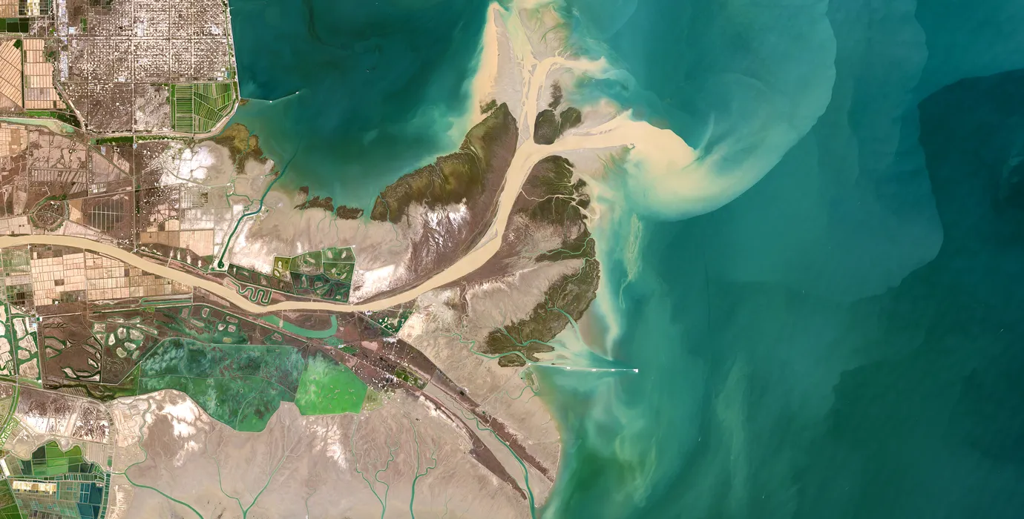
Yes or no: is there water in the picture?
Yes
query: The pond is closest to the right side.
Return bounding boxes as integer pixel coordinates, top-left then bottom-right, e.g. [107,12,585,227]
[138,338,305,433]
